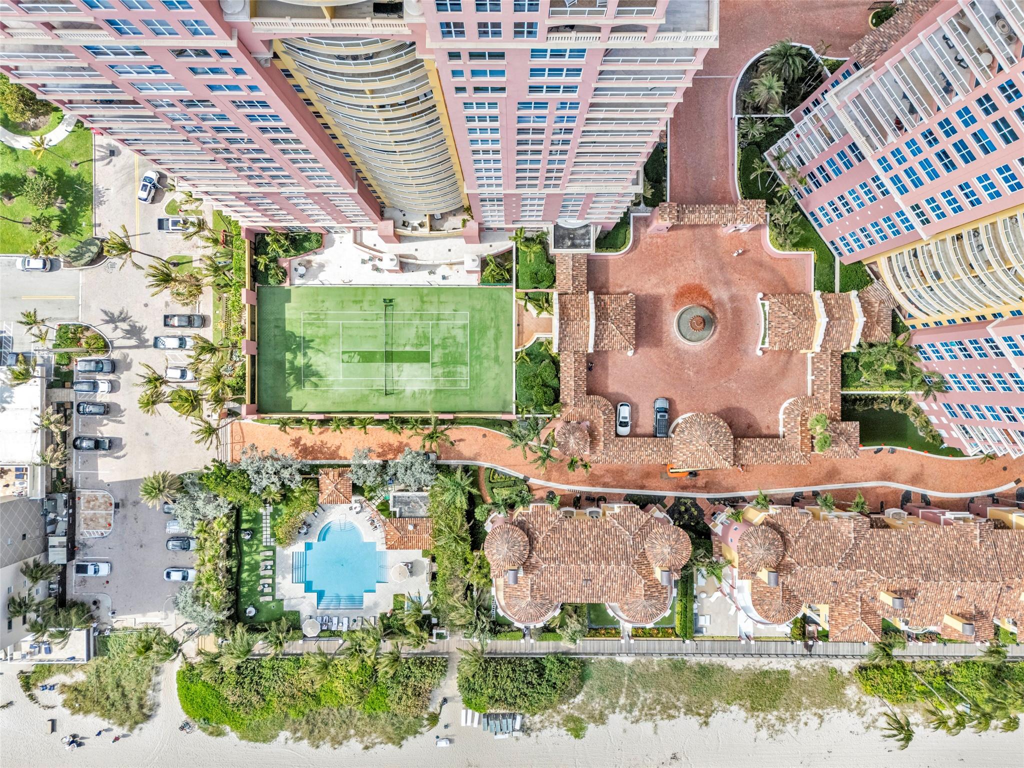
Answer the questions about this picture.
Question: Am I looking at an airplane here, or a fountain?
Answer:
fountain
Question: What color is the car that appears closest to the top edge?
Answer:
white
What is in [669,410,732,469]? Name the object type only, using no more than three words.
building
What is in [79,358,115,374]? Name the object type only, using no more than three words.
car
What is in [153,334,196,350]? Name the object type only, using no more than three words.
vehicle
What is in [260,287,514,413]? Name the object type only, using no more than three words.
tennis court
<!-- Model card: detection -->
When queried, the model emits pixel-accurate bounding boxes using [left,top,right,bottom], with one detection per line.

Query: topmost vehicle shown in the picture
[140,170,163,206]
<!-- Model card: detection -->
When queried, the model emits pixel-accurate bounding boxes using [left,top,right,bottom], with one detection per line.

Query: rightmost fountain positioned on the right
[674,304,716,346]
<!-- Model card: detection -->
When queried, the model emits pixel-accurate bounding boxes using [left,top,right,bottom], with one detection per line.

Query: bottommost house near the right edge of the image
[704,498,1024,643]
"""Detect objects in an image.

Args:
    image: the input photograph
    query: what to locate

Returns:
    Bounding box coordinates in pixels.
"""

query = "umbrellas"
[390,562,410,583]
[301,616,322,638]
